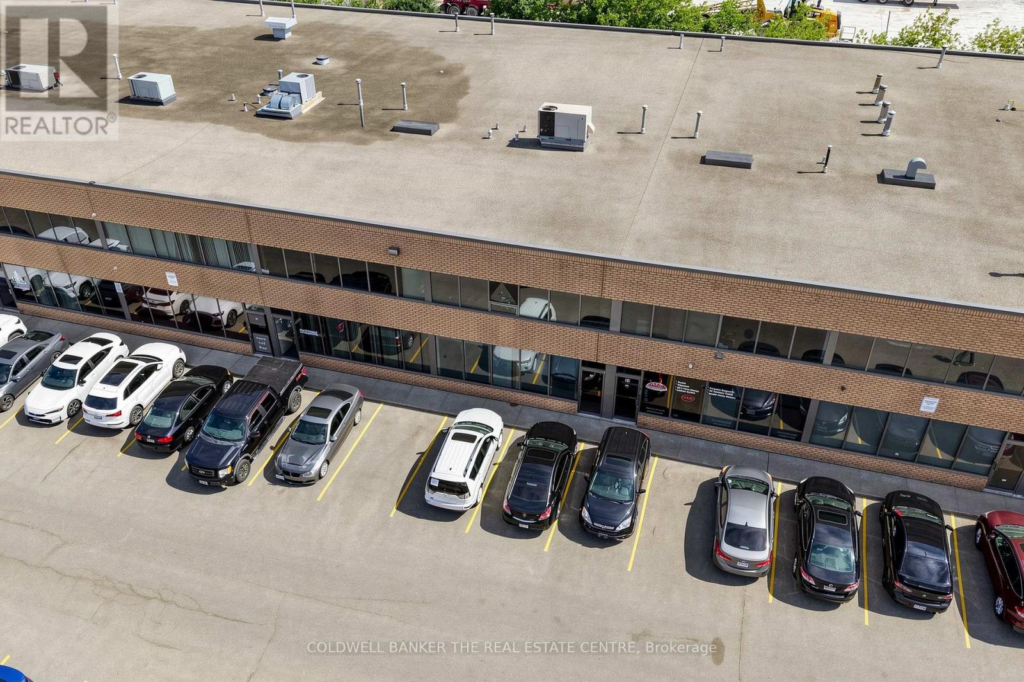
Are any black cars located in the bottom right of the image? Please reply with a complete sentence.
Yes, there is a black car in the bottom right of the image.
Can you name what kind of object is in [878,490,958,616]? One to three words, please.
car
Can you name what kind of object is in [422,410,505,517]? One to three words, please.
car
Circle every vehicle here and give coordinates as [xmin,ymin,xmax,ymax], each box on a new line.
[133,363,234,450]
[0,327,69,410]
[502,422,579,532]
[271,384,364,486]
[579,418,652,540]
[790,476,866,605]
[0,664,28,682]
[878,490,958,616]
[0,313,36,343]
[708,461,783,576]
[80,345,185,432]
[974,511,1024,641]
[738,0,840,32]
[422,410,505,517]
[179,354,310,486]
[23,332,130,423]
